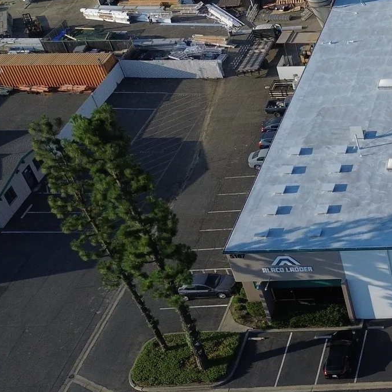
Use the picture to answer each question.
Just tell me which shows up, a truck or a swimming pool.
truck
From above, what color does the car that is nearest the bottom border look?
black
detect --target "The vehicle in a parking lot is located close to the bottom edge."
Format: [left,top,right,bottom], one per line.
[323,325,361,380]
